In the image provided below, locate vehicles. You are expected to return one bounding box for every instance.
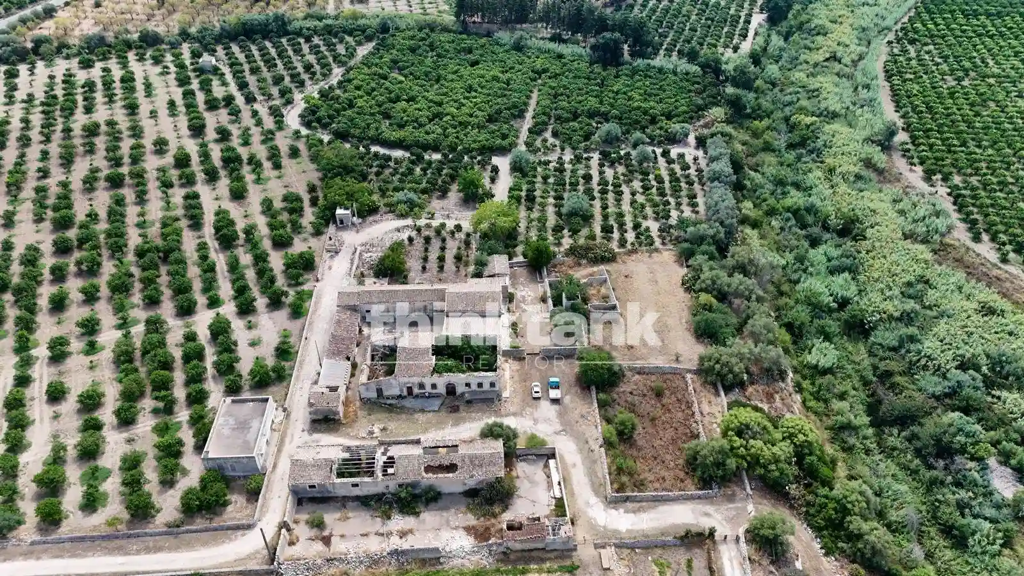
[548,373,561,400]
[531,380,542,397]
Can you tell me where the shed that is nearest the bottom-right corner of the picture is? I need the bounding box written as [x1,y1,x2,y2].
[502,516,576,547]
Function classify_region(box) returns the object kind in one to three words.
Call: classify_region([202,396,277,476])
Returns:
house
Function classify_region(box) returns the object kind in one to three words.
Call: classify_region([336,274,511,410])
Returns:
house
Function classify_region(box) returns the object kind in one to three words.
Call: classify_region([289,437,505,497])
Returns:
barn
